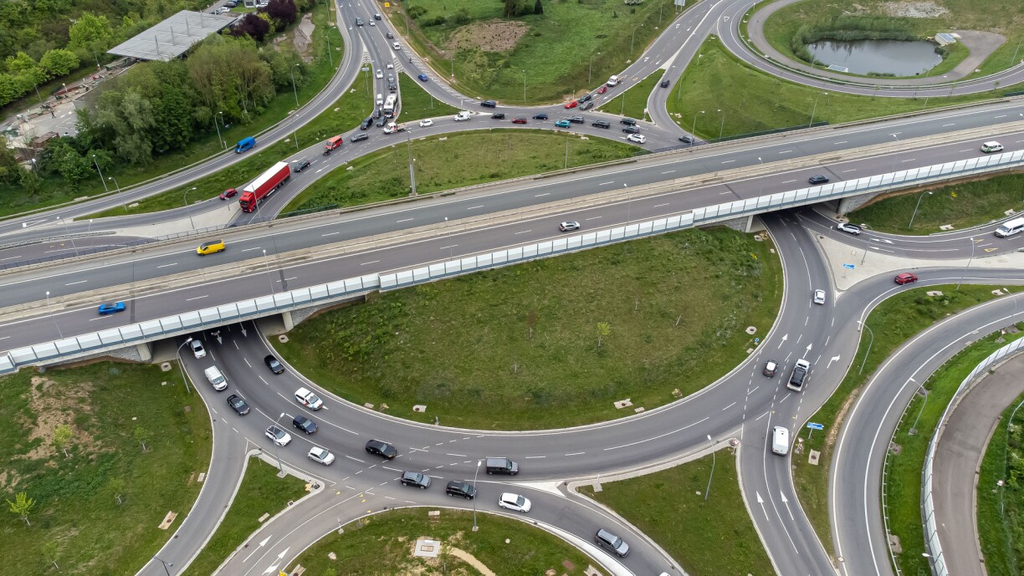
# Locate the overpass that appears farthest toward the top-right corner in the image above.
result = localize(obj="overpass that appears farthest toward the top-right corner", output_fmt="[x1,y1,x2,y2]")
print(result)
[696,163,1024,235]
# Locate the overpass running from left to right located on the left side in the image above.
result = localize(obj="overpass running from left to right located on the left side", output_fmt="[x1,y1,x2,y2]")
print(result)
[63,286,398,367]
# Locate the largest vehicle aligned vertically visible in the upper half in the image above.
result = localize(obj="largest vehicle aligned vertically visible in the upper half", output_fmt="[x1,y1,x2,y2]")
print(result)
[382,91,397,117]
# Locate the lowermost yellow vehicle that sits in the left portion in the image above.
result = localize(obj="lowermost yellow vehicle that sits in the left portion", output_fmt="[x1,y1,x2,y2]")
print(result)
[197,239,225,254]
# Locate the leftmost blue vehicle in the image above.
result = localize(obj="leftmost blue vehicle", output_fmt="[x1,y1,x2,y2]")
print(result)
[97,302,127,316]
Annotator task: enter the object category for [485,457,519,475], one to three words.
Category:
vehicle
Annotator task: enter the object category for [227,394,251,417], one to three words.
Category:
car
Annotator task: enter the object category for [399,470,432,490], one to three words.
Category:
car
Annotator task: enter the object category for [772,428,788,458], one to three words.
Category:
vehicle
